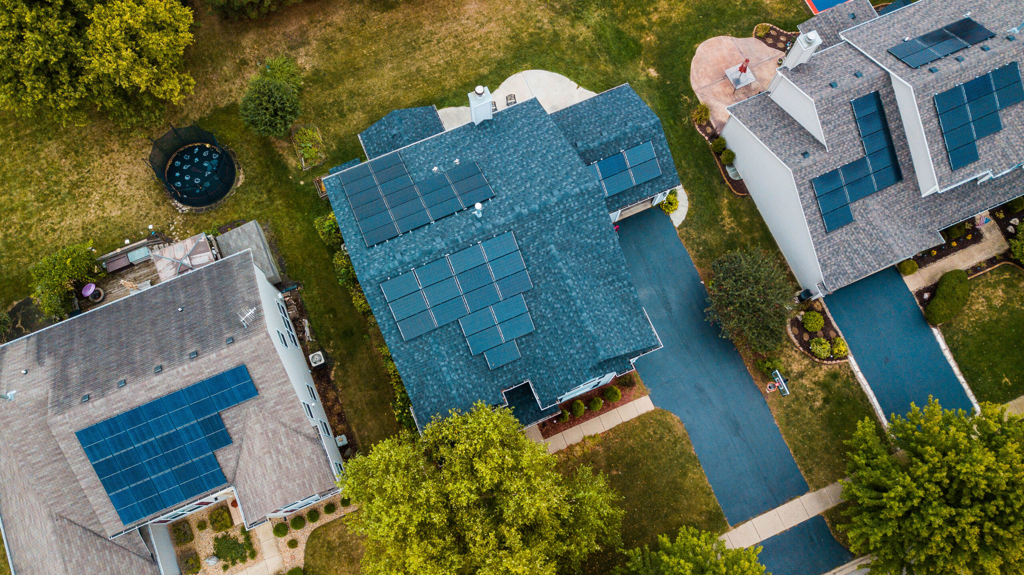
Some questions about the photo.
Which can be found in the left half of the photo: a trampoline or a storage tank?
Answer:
trampoline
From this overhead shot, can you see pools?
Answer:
No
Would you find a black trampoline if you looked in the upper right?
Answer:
No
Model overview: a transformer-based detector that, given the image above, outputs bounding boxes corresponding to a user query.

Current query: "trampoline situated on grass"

[143,118,238,210]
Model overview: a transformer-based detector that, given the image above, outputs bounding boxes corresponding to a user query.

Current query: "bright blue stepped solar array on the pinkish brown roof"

[76,366,259,525]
